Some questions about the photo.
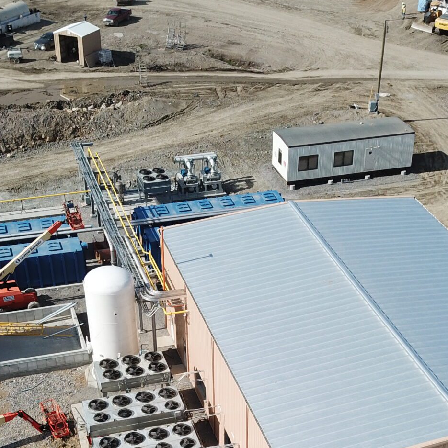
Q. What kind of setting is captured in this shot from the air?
industrial area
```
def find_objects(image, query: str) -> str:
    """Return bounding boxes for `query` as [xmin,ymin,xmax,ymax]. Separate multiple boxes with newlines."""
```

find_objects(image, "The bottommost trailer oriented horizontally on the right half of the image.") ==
[277,120,416,183]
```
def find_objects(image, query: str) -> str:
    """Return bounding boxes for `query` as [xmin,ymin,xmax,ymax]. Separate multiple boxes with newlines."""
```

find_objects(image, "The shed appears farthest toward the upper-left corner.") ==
[52,17,104,66]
